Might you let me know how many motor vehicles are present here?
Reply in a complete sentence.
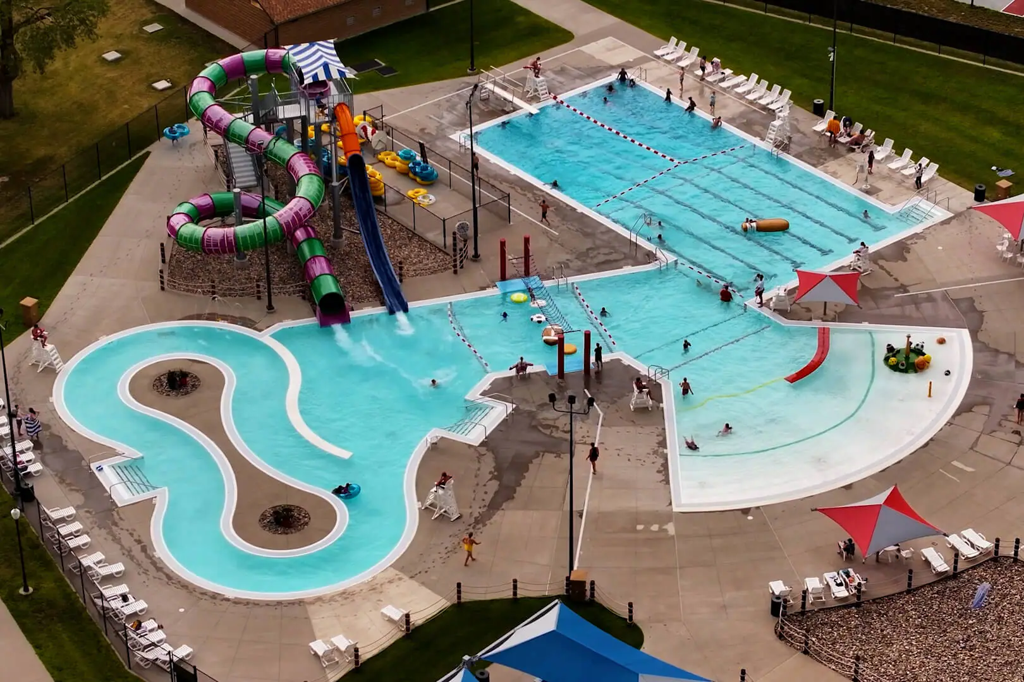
The picture shows no motor vehicles.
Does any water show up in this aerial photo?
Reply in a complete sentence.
Yes, some water is visible.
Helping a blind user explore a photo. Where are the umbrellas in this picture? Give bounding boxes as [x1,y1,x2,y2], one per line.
[811,485,951,567]
[968,192,1024,251]
[791,270,863,325]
